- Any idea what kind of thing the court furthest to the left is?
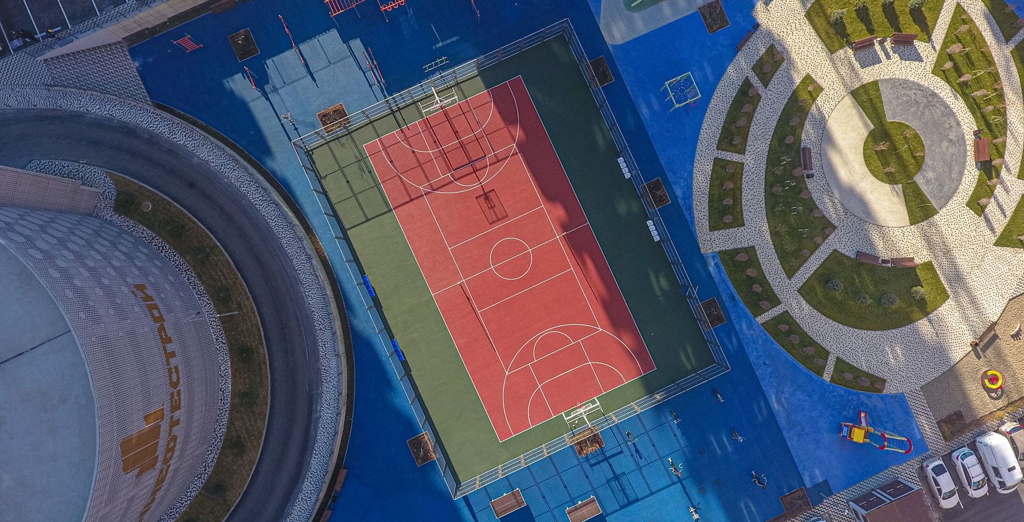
basketball court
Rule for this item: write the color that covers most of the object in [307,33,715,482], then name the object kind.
red basketball court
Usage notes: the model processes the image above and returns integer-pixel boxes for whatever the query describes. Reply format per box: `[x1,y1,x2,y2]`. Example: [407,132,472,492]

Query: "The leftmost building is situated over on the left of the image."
[0,173,219,522]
